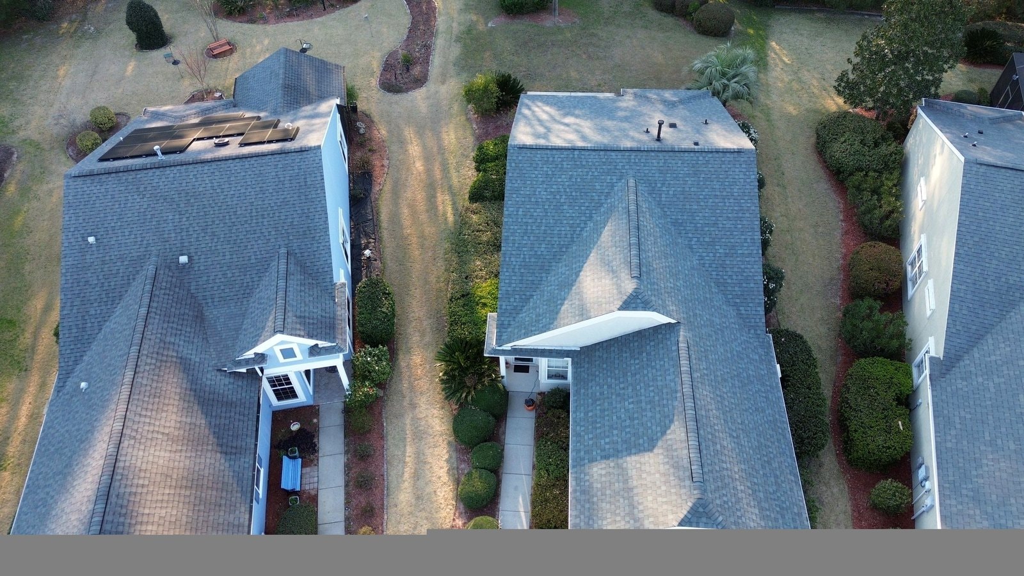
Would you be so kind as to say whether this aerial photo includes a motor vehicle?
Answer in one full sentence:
No, no motor vehicle can be seen from above.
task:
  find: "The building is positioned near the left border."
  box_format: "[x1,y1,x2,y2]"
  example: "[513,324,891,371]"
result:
[0,48,355,576]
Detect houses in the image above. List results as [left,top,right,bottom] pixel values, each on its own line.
[484,87,820,573]
[900,98,1024,576]
[0,48,355,576]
